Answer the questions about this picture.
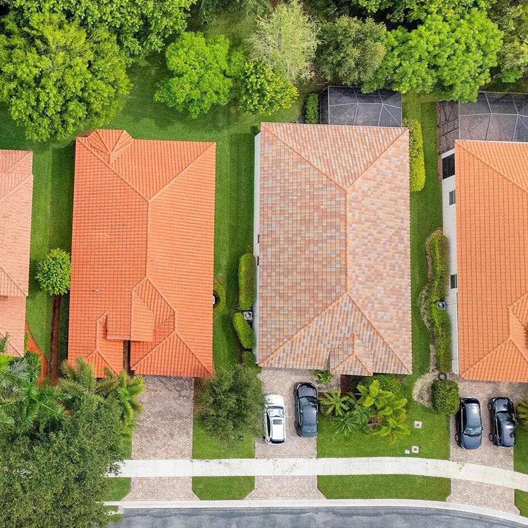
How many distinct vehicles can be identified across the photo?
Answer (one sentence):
Looking from above, you can make out 4 vehicles.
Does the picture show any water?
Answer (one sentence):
No, water can't be seen anywhere here.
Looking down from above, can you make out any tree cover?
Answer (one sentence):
Yes, the picture does contain tree cover.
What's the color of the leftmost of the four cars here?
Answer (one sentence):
The color of the leftmost of the four cars is white.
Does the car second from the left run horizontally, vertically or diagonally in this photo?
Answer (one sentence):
I'd say the car second from the left is aligned vertically in the picture.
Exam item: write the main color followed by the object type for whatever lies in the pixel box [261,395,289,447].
white car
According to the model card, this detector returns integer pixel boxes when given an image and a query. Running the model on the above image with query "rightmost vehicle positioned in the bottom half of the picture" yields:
[486,397,519,449]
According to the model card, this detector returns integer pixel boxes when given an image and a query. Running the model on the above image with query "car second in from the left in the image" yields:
[294,384,320,439]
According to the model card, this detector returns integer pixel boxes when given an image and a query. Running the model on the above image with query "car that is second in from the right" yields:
[454,399,486,450]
